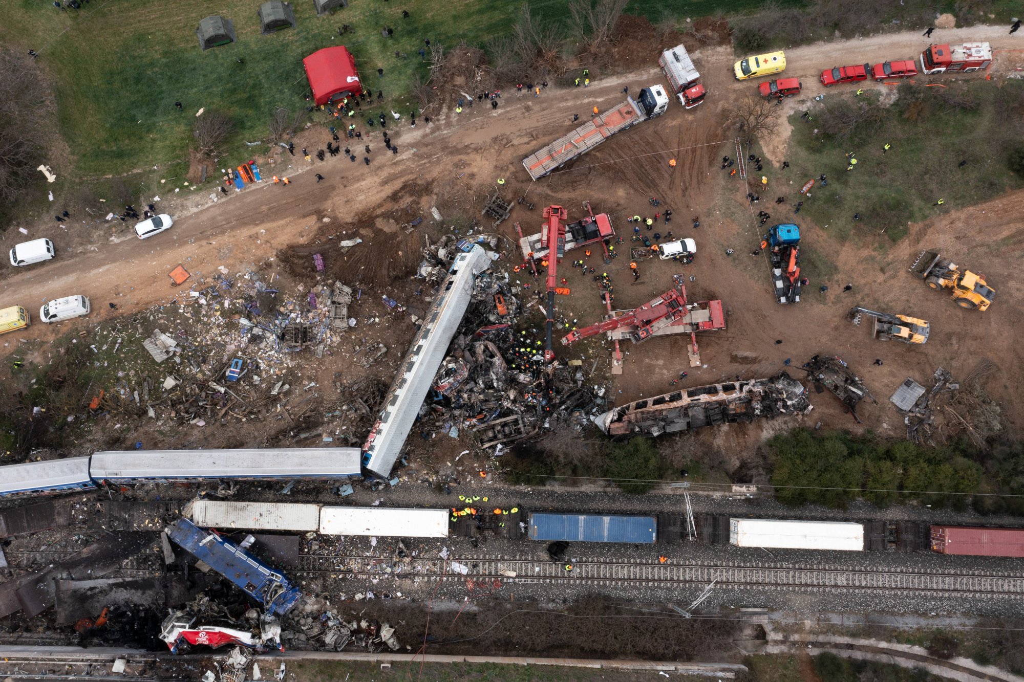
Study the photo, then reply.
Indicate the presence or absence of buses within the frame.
Yes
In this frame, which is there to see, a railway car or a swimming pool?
railway car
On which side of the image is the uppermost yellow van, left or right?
right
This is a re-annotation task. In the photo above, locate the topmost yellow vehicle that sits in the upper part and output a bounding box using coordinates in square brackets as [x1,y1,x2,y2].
[730,49,789,84]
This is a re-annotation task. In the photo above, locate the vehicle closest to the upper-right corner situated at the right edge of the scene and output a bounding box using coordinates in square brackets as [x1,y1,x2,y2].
[917,42,998,82]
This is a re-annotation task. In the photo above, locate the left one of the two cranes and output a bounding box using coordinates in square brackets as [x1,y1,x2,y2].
[511,188,616,387]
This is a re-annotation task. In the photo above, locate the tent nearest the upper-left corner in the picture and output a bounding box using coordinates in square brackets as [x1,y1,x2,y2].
[197,8,238,52]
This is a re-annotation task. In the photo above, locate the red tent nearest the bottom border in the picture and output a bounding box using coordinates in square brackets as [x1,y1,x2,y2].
[294,37,386,114]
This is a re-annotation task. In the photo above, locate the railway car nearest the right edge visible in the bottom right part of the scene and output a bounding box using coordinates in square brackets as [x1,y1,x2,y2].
[891,524,1024,559]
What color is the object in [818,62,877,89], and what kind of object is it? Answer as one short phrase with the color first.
red vehicle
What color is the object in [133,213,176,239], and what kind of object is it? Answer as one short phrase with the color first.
white car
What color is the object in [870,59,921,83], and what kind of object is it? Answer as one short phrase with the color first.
red vehicle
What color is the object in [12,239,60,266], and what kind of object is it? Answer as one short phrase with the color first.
white vehicle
